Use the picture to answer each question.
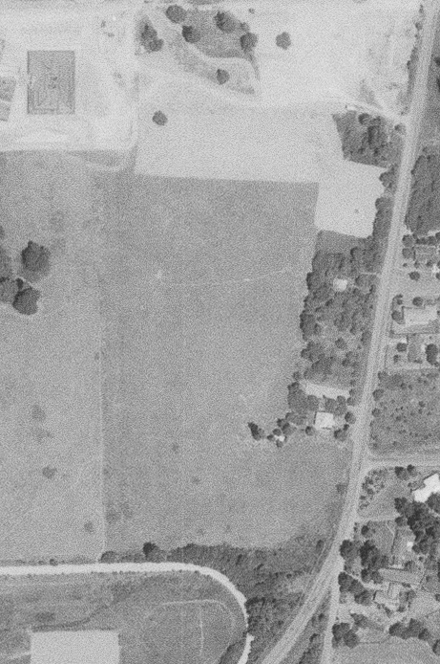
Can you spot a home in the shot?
Yes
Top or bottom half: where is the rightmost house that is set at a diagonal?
bottom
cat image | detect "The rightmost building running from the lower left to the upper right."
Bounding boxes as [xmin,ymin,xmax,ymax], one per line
[411,475,440,503]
